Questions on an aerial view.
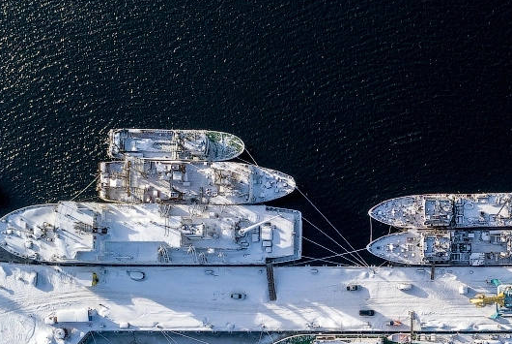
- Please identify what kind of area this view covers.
port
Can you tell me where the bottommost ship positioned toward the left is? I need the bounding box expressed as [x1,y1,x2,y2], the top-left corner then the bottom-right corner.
[0,199,307,267]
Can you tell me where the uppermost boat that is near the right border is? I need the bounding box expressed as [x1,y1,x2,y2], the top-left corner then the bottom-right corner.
[370,192,512,230]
